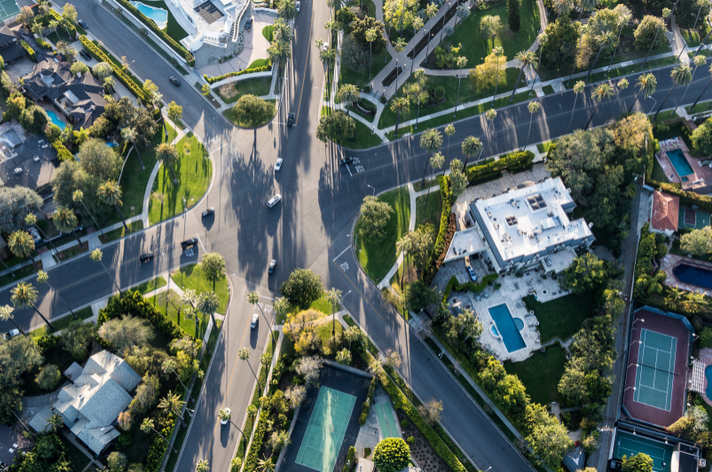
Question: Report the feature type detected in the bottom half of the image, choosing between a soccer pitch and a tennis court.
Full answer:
You can see a tennis court in the bottom half of the image.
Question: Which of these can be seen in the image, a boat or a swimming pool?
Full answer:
The one in the frame is a swimming pool.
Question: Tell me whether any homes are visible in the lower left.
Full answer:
Yes, the scene does show a home in the lower left.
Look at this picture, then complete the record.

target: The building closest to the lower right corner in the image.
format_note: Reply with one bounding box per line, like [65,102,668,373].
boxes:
[669,443,700,472]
